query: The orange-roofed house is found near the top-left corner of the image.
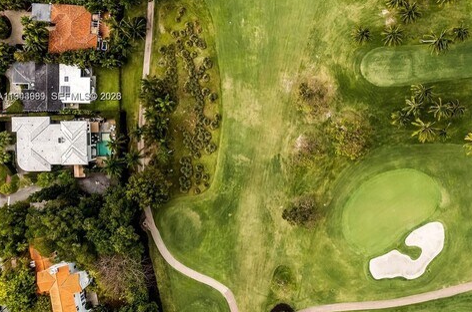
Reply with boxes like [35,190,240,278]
[32,2,103,53]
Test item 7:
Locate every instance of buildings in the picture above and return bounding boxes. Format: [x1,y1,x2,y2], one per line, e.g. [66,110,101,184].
[10,62,98,110]
[29,245,95,312]
[11,116,96,178]
[32,2,103,53]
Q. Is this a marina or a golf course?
golf course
